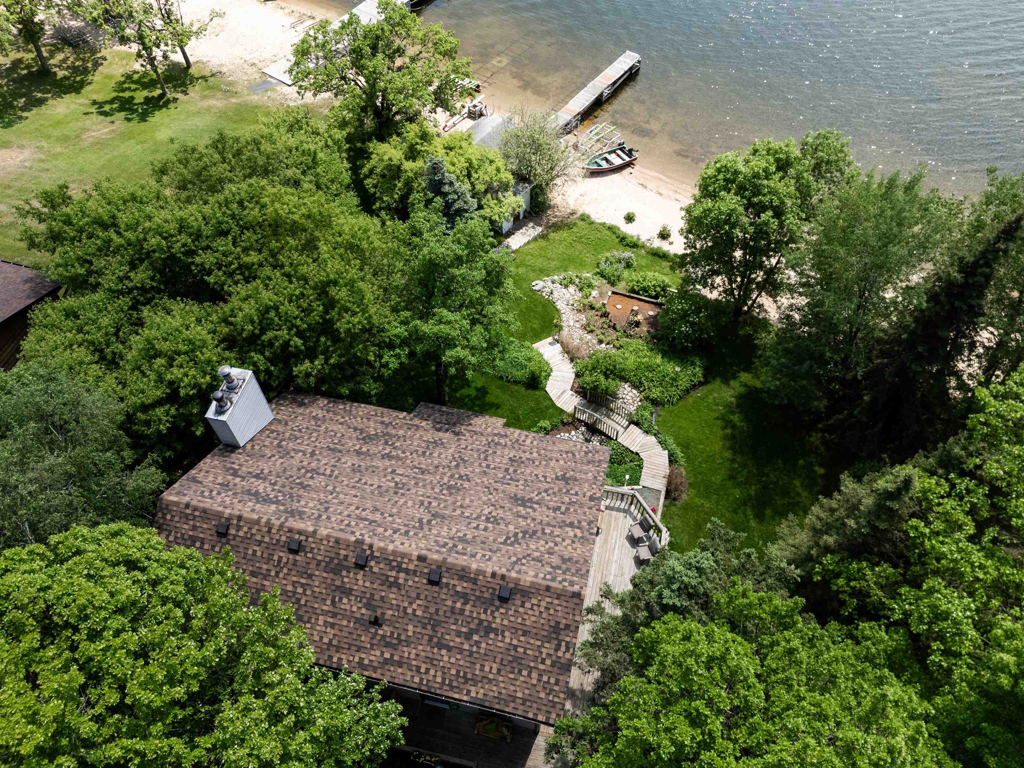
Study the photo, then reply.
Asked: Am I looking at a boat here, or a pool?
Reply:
boat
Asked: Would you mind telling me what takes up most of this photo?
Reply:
trees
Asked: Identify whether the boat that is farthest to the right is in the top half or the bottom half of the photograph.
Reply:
top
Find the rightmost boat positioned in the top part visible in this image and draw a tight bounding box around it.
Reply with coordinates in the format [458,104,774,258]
[586,144,641,170]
